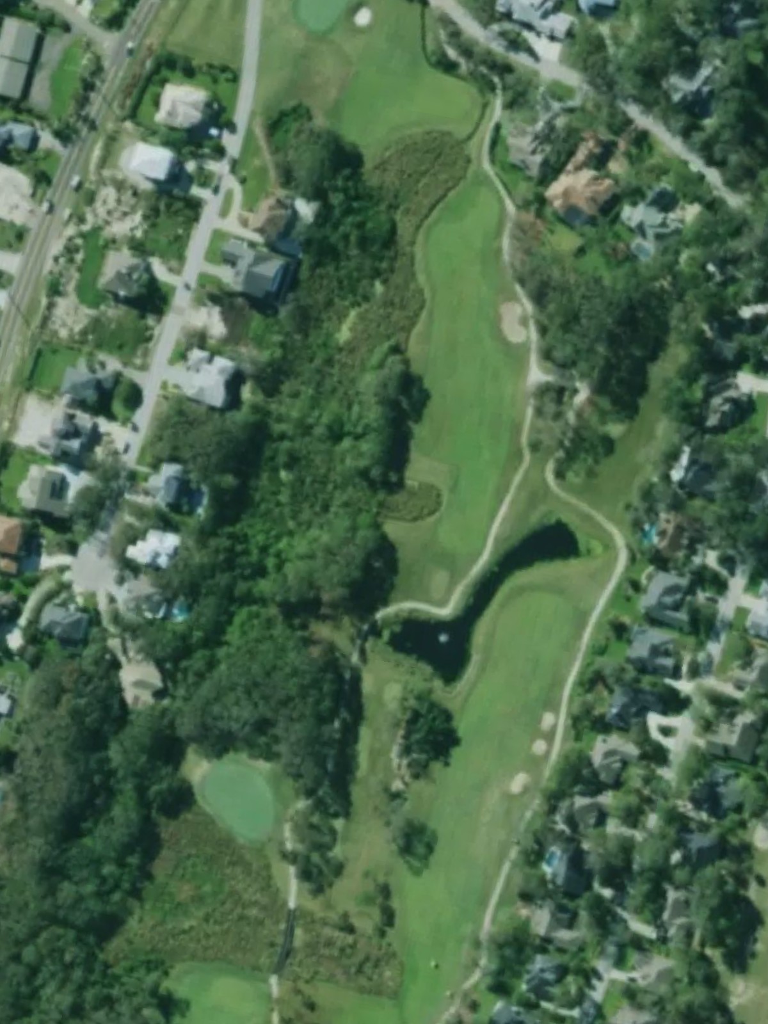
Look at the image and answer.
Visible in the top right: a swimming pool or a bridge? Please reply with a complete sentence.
You can see a swimming pool in the top right.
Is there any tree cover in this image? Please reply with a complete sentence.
Yes, some tree cover is visible.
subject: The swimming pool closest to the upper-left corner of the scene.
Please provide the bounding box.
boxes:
[190,485,208,517]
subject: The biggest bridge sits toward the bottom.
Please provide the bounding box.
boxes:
[271,904,295,978]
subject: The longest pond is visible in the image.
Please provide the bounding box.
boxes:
[389,519,580,684]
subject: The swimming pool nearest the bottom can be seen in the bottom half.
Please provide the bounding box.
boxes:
[543,845,562,877]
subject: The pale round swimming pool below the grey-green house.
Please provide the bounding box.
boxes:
[631,238,655,263]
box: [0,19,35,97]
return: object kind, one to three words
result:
shed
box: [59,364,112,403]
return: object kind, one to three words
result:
house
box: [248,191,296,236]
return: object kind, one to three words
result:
house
